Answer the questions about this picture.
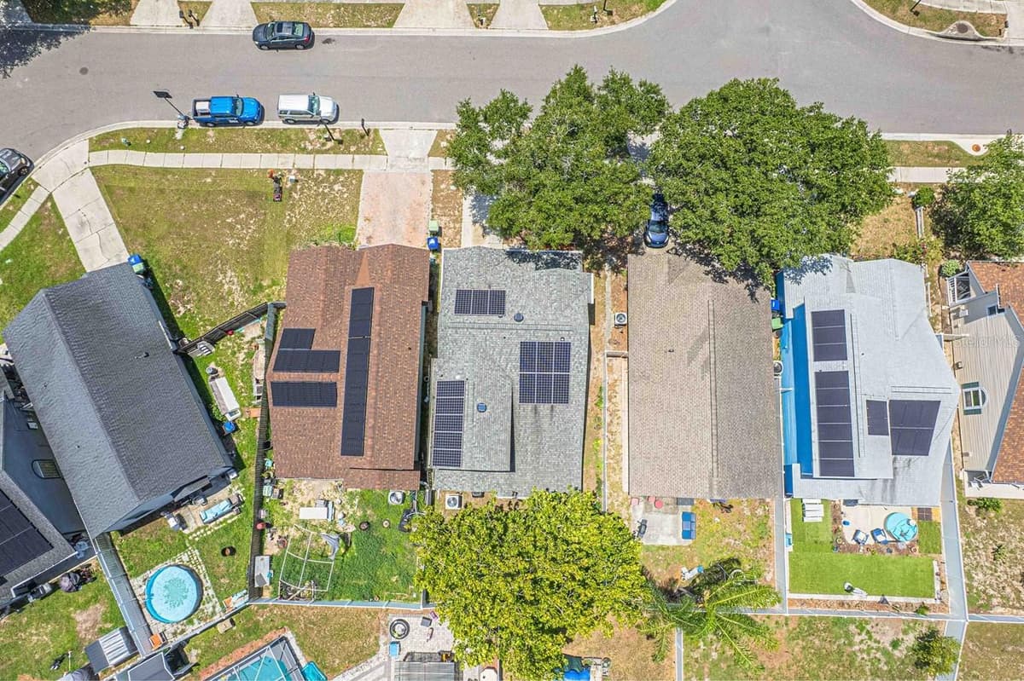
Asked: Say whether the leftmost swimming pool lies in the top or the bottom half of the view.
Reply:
bottom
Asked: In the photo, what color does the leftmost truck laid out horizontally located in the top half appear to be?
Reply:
blue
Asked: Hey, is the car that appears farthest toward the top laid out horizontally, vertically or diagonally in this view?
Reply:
horizontally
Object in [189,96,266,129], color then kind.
blue truck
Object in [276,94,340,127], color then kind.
white car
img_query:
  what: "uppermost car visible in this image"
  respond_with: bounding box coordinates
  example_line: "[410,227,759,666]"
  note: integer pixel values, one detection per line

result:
[251,20,315,52]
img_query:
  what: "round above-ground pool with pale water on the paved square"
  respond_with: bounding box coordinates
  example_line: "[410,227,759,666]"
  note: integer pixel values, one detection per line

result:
[143,559,209,625]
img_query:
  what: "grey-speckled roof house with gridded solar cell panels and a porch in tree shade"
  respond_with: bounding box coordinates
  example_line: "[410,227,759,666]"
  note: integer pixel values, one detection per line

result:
[430,246,597,496]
